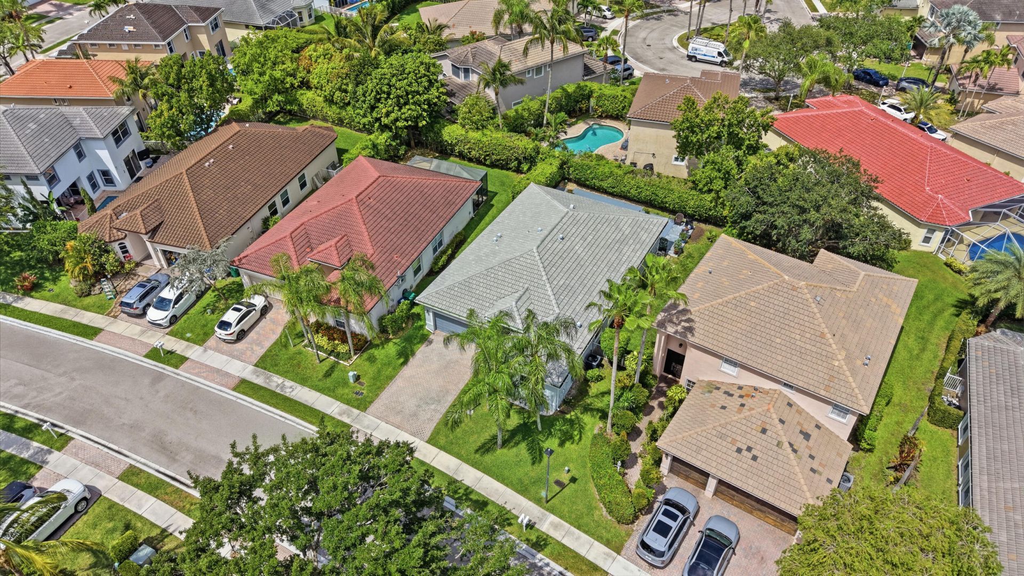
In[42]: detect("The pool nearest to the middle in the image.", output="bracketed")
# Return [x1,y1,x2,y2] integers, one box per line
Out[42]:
[560,122,625,161]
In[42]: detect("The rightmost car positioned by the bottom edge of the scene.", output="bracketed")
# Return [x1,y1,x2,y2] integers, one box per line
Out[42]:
[680,511,739,576]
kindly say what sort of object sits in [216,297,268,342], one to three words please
car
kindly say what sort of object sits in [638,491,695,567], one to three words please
car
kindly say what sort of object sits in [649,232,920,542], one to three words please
house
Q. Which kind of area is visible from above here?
residential area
